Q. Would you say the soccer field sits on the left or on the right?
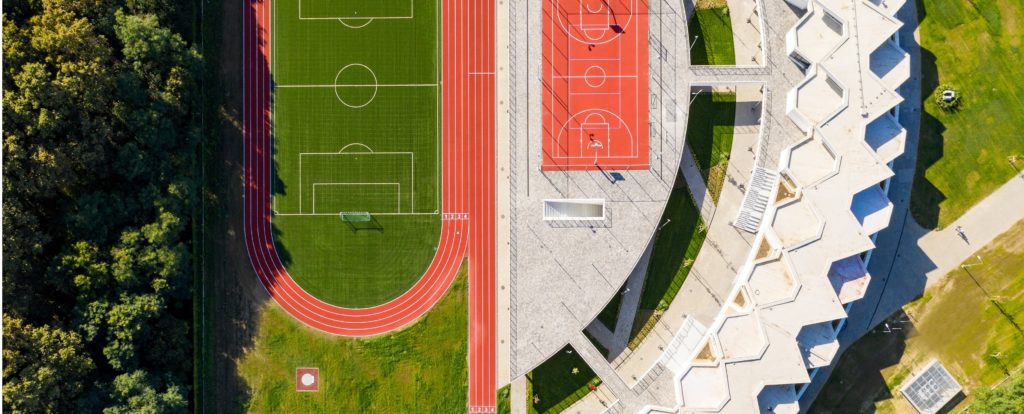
left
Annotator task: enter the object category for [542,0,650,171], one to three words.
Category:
sports court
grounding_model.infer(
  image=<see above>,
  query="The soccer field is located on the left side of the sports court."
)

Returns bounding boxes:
[270,0,442,307]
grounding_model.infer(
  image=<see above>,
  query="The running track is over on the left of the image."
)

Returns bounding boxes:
[242,0,497,414]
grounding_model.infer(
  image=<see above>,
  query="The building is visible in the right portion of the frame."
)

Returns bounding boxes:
[642,0,910,414]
